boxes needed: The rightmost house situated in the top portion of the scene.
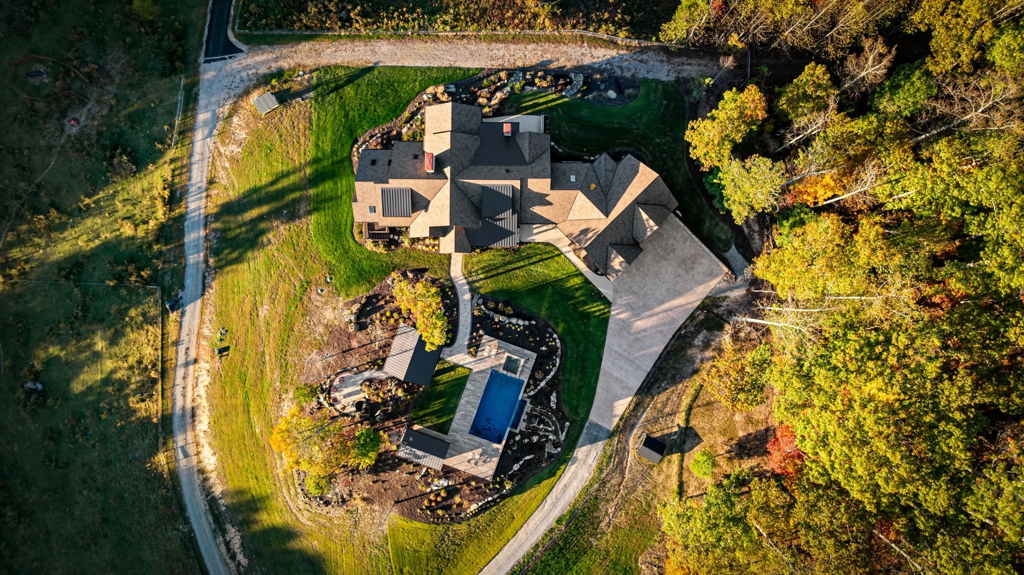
[352,102,679,282]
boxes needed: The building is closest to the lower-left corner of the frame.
[397,427,450,471]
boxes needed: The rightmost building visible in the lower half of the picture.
[635,433,667,464]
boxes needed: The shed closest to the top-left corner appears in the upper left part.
[253,92,282,116]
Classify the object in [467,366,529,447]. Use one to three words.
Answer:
swimming pool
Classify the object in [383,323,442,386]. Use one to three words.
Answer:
building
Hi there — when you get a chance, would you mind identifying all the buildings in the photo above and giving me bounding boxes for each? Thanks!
[397,427,450,471]
[253,92,282,116]
[635,433,667,464]
[352,102,679,282]
[383,323,442,386]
